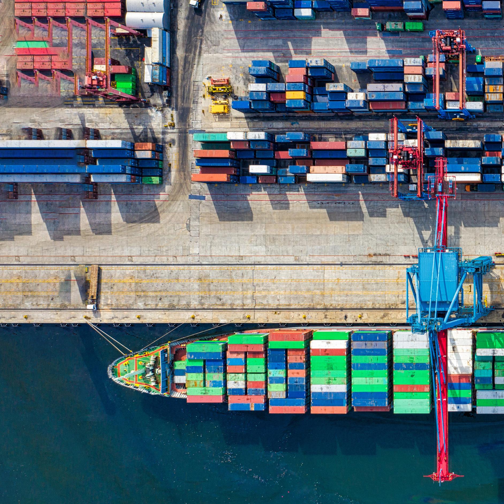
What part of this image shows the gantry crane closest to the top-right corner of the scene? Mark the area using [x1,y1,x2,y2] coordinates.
[430,29,476,119]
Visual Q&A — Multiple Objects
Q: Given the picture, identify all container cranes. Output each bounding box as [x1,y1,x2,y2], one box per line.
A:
[407,156,495,491]
[51,15,120,104]
[79,15,154,104]
[15,15,87,104]
[388,118,437,200]
[430,29,476,119]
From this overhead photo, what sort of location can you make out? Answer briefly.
port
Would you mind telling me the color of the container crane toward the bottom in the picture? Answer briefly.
blue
